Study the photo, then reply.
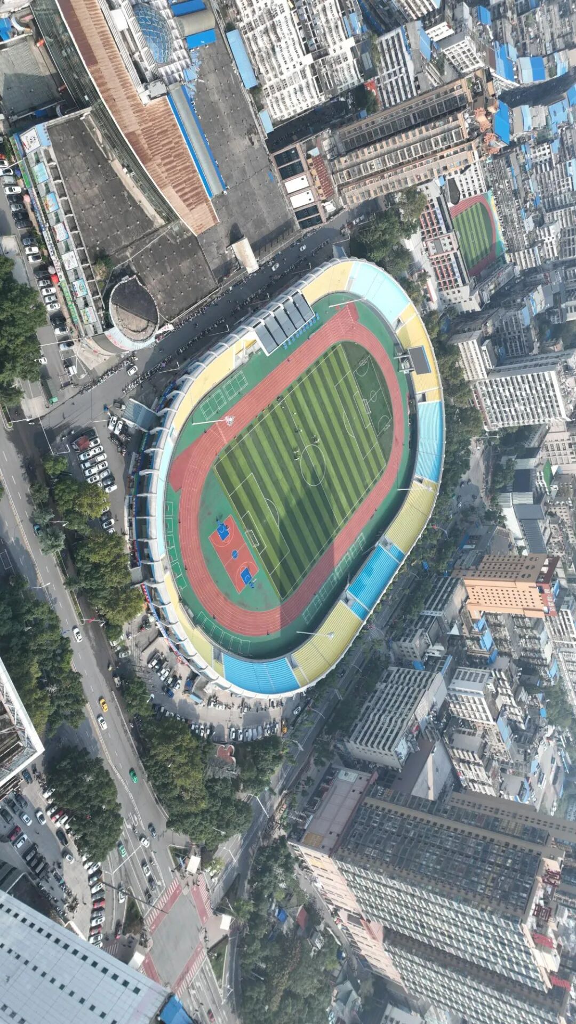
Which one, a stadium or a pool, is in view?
stadium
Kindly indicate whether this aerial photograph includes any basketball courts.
Yes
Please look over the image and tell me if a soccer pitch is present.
Yes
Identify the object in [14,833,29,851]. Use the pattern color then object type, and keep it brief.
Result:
white car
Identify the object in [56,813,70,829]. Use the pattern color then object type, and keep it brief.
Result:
white car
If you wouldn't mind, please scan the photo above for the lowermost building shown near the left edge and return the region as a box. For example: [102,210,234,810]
[0,891,194,1024]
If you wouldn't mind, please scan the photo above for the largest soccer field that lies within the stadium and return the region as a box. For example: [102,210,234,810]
[212,341,393,604]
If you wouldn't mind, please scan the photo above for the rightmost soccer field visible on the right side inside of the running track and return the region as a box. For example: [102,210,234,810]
[354,356,392,436]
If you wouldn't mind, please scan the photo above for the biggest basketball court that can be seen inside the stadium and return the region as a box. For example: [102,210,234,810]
[209,515,259,594]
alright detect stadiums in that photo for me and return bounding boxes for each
[117,245,445,701]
